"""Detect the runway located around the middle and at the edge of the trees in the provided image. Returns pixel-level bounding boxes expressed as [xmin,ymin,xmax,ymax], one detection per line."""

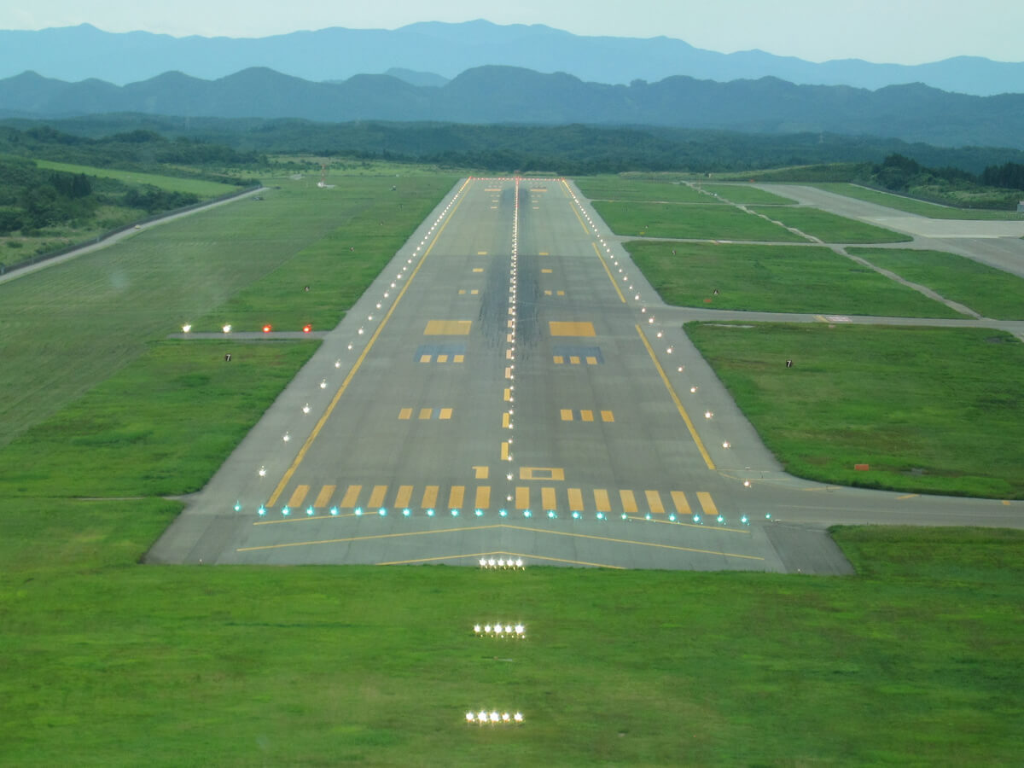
[259,175,747,519]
